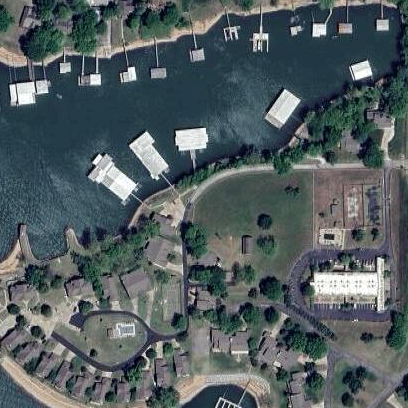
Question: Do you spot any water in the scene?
Yes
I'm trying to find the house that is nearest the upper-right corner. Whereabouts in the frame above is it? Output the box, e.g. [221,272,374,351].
[367,108,393,128]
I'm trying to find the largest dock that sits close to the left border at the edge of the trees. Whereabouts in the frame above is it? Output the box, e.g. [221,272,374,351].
[10,63,35,105]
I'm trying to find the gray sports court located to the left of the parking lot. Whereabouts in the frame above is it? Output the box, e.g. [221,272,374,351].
[163,283,183,321]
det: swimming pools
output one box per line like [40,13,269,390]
[116,322,136,336]
[319,228,345,248]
